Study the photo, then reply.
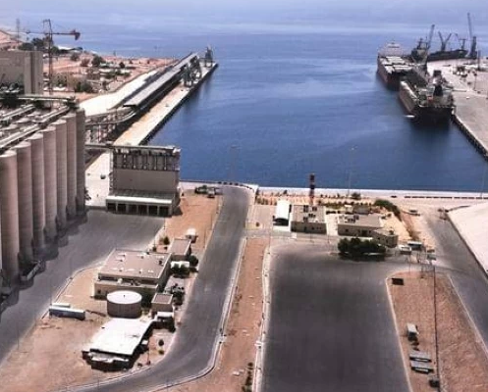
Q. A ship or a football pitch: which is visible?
ship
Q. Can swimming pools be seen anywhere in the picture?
No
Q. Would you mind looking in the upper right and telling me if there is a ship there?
Yes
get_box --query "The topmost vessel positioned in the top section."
[401,17,472,69]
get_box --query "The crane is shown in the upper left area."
[10,21,81,114]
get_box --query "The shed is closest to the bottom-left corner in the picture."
[89,312,150,369]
